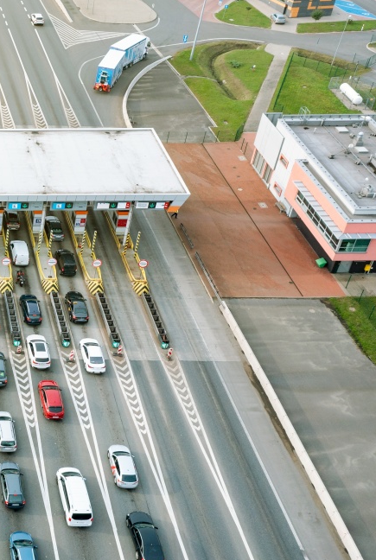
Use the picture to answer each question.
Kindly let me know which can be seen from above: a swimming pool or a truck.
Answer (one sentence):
The one in the frame is a truck.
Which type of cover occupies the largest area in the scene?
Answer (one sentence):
For the most part, this view shows paved ground.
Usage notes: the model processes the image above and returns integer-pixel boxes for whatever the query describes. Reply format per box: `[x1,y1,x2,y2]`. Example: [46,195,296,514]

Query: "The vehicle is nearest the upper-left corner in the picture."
[30,12,44,24]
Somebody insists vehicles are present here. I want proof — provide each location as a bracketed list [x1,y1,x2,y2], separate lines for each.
[0,409,16,451]
[94,73,109,93]
[27,335,51,369]
[60,473,89,528]
[272,10,288,22]
[55,248,76,275]
[17,270,26,286]
[109,446,136,489]
[0,351,7,387]
[0,461,24,509]
[9,240,30,266]
[10,534,39,560]
[110,31,153,69]
[40,383,63,420]
[80,339,105,374]
[20,293,42,325]
[131,514,162,560]
[30,12,44,24]
[66,292,89,323]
